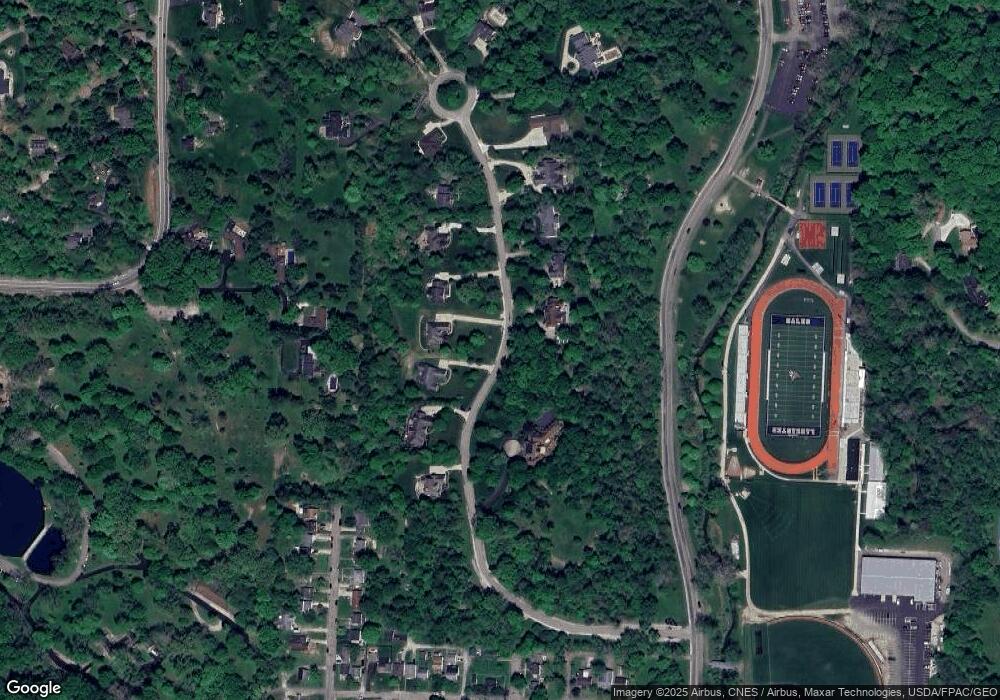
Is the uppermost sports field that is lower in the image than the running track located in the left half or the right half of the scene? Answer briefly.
right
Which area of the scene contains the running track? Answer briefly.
right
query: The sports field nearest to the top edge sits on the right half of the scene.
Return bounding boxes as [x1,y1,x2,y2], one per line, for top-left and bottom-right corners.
[758,289,833,460]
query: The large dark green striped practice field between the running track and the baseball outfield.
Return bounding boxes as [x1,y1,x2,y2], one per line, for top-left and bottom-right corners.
[741,483,857,609]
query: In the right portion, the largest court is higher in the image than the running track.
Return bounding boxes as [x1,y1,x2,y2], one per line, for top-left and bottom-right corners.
[798,219,826,249]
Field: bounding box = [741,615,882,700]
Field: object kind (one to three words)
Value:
baseball field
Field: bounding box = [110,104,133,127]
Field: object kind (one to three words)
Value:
house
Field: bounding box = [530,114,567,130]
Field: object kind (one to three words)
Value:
barn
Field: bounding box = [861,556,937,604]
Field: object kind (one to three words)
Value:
building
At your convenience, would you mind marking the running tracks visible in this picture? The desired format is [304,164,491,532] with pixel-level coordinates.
[747,278,847,474]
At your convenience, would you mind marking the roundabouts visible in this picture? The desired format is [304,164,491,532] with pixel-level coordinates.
[431,72,476,118]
